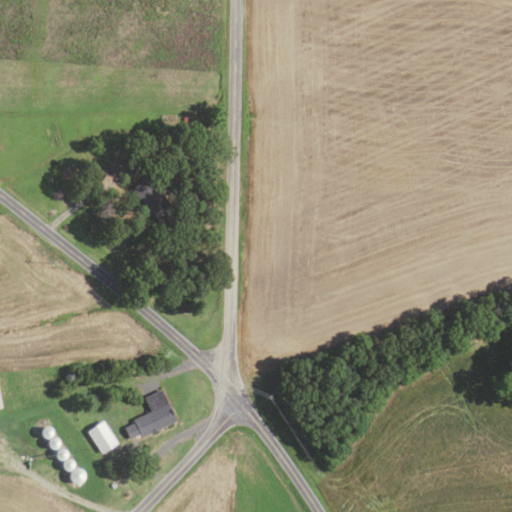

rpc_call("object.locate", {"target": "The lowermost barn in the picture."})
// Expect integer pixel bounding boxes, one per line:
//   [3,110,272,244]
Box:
[88,421,120,454]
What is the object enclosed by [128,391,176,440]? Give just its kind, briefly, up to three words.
house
